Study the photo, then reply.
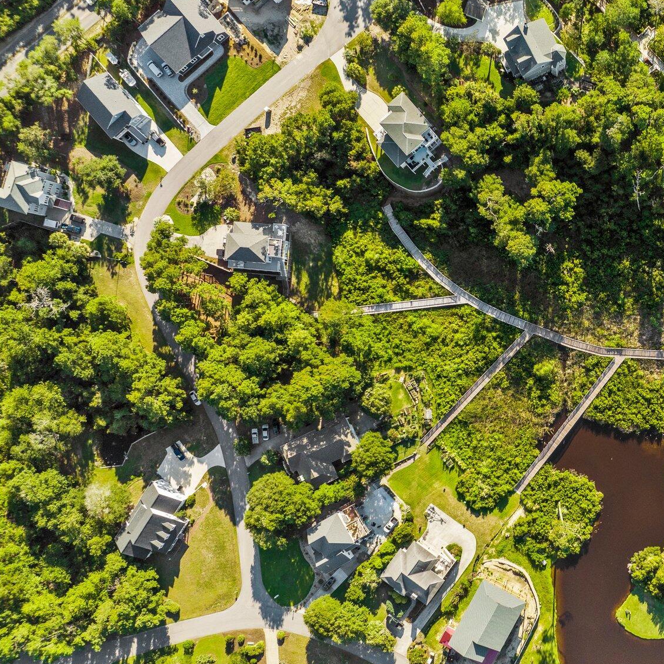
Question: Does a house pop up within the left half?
Yes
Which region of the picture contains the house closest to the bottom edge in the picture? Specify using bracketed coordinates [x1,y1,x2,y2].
[440,566,527,664]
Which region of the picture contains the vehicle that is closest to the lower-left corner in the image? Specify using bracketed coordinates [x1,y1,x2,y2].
[168,443,184,461]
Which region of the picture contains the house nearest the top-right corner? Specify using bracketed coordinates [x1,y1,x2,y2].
[500,20,566,82]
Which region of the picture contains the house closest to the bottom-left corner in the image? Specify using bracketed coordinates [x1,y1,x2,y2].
[116,482,189,555]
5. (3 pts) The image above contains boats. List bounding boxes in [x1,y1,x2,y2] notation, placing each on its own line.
[117,67,132,85]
